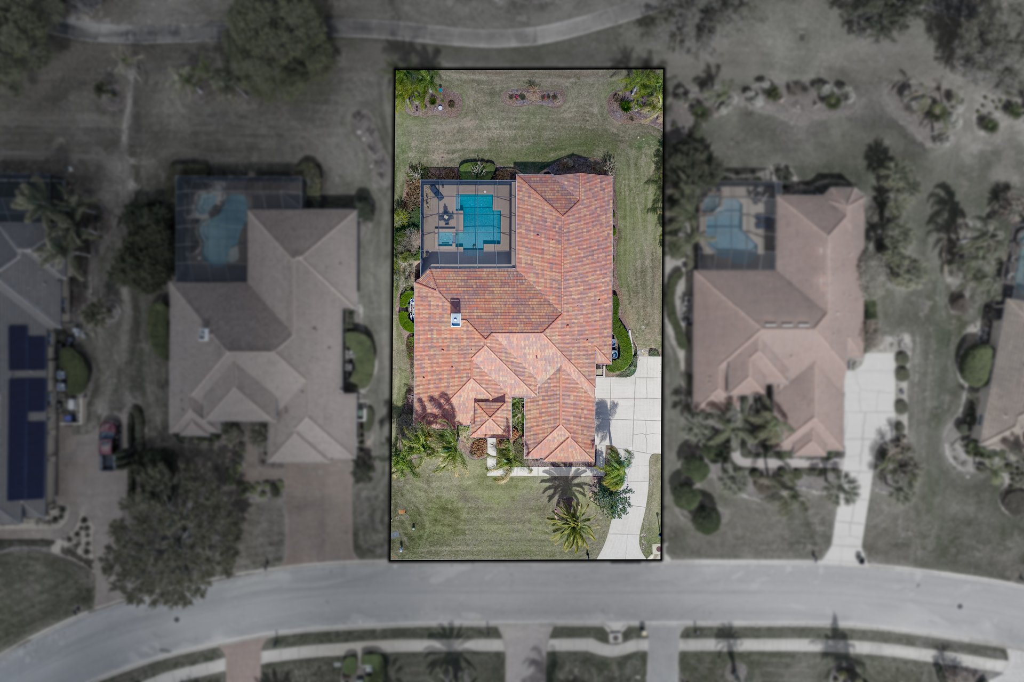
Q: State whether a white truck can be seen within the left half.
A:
No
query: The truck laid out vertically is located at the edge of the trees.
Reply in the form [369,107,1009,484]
[97,417,122,470]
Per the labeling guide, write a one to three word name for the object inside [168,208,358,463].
house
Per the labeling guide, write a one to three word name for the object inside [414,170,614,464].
house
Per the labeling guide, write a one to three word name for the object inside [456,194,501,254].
swimming pool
